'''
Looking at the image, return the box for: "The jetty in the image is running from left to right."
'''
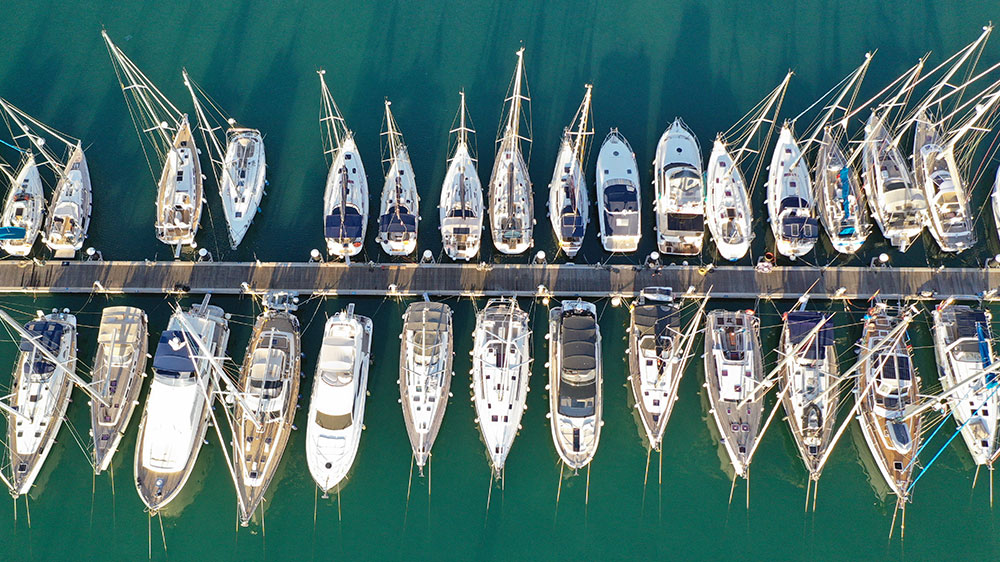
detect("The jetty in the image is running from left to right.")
[0,261,1000,300]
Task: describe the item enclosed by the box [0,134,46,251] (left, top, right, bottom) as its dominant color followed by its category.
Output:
white boat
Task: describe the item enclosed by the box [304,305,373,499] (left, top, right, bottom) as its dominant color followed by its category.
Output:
white boat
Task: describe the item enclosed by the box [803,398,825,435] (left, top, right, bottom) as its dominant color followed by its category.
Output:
gray boat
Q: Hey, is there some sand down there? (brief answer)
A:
No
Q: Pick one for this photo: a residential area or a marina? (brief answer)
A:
marina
